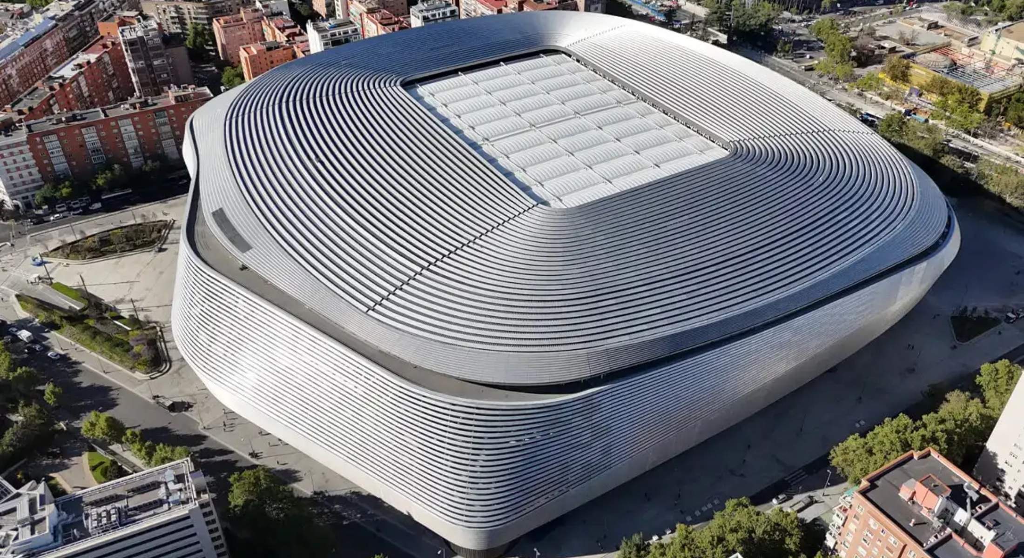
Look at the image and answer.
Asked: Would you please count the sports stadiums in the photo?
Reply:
1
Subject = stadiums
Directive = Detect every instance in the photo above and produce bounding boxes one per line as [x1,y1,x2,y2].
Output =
[174,11,960,553]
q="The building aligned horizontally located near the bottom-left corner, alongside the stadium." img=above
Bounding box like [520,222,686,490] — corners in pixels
[0,458,228,558]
